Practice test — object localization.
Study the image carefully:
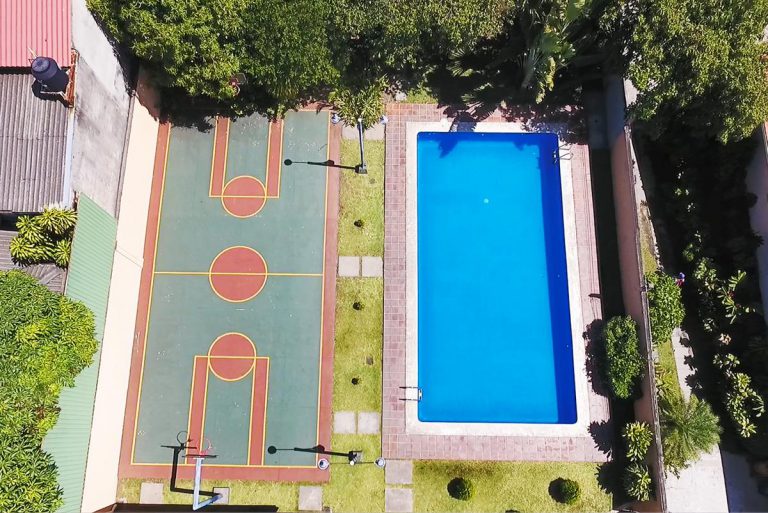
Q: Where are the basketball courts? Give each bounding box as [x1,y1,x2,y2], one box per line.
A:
[119,101,340,481]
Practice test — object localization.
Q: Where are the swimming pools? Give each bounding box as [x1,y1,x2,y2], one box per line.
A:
[406,122,591,436]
